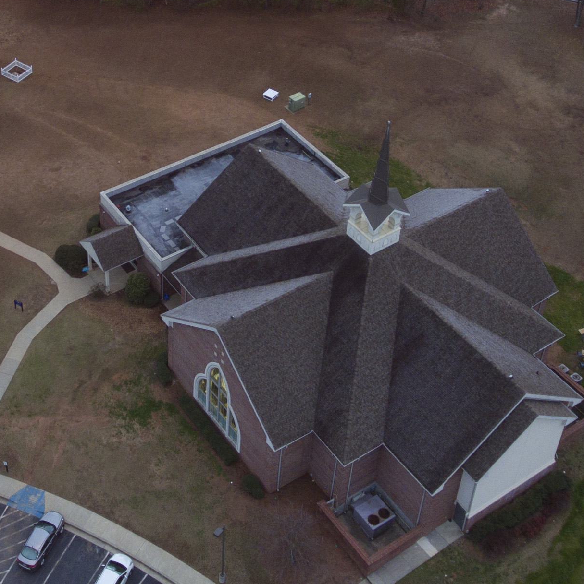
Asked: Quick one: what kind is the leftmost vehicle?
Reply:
automobile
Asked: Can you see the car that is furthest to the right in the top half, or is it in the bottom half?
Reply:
bottom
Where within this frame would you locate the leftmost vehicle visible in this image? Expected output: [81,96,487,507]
[14,511,66,576]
